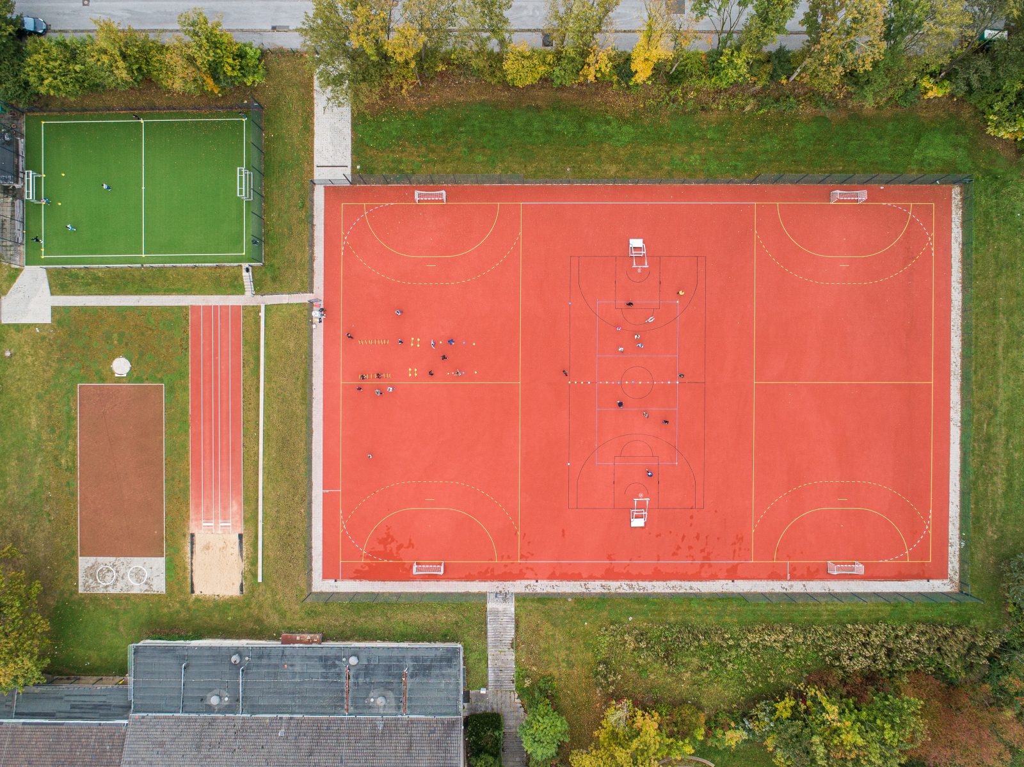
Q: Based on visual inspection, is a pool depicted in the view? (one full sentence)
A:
No, I find no pool anywhere in the image.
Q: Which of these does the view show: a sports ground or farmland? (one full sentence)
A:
This looks like a sports ground.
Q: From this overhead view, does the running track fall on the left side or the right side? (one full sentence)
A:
It is on the left.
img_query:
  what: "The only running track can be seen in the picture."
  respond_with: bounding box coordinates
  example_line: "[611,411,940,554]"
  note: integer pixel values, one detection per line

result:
[189,306,244,533]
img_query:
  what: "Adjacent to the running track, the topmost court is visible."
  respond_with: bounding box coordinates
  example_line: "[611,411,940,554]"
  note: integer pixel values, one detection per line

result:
[322,184,953,580]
